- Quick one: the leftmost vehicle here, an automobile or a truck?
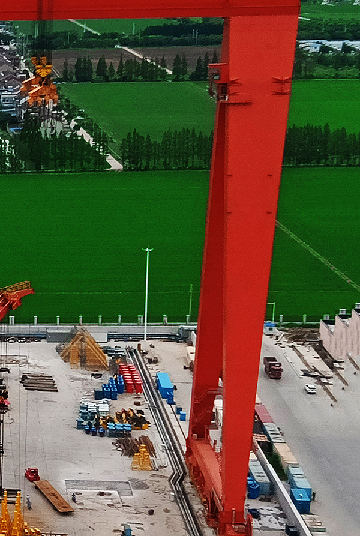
truck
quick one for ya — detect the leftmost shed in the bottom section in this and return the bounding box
[47,325,72,342]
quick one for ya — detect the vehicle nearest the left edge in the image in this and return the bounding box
[22,459,74,511]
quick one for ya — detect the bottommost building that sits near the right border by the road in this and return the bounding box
[320,305,360,381]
